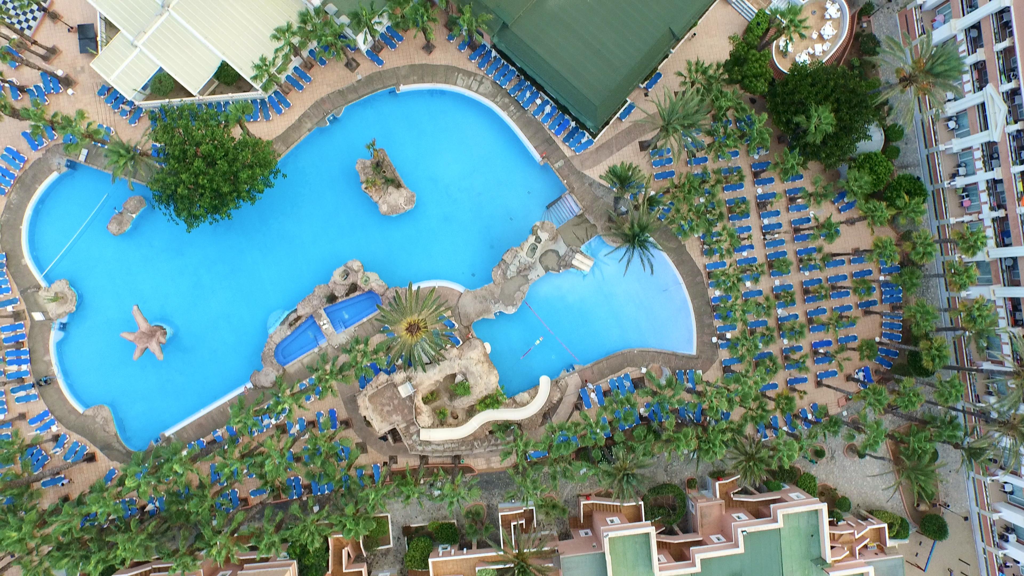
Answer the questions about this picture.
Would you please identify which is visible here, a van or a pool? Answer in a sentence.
Looking from above, you can make out a pool.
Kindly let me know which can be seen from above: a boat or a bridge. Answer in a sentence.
Of the two, only a bridge appears.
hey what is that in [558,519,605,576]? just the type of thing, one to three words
building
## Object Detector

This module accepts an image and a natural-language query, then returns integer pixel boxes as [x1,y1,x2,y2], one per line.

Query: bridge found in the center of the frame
[458,221,593,326]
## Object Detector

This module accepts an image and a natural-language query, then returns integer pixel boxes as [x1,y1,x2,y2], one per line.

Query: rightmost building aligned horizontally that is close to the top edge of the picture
[447,0,721,133]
